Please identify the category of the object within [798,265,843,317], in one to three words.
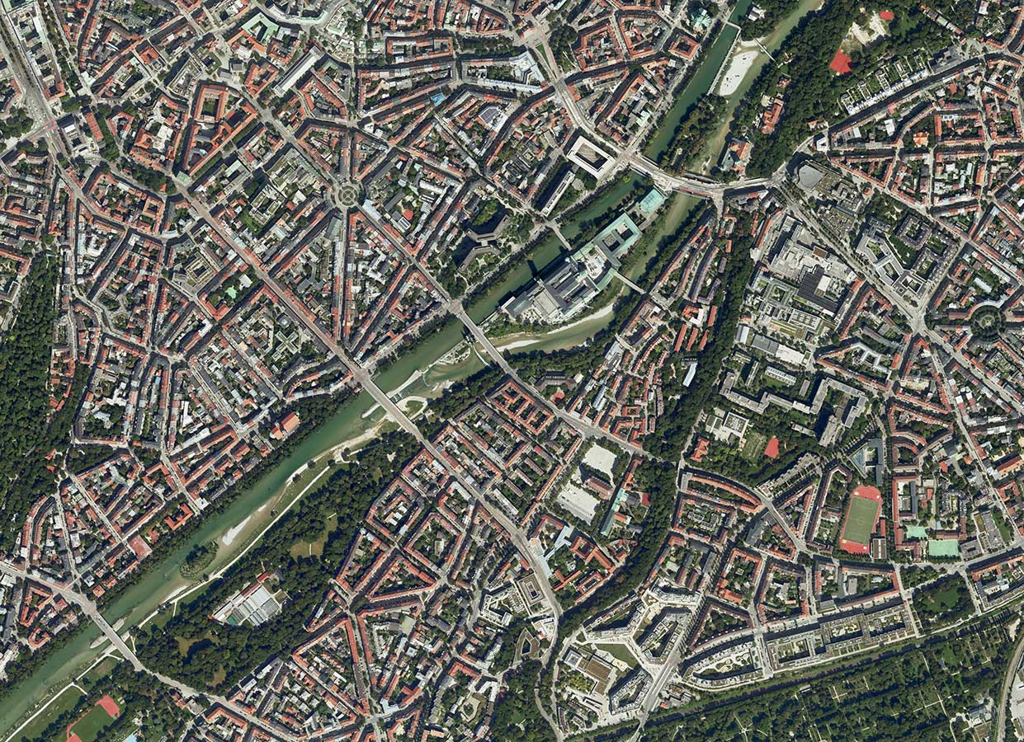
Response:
building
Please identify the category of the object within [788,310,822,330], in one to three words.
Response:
building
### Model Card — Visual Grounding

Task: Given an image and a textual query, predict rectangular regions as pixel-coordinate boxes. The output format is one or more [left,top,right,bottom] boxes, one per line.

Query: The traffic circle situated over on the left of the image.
[331,180,362,210]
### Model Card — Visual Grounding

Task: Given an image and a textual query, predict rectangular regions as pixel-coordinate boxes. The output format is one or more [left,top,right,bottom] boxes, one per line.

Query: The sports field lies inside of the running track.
[844,497,879,544]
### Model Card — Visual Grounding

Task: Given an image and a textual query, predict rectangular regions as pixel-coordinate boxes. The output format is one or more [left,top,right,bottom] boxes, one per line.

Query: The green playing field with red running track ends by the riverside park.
[67,696,120,742]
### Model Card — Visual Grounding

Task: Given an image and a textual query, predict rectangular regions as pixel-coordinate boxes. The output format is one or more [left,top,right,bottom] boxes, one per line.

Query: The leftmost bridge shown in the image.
[86,606,144,671]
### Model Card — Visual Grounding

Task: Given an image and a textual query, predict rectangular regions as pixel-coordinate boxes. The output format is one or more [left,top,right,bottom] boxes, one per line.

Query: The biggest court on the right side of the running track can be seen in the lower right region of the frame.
[929,540,959,555]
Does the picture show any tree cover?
Yes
